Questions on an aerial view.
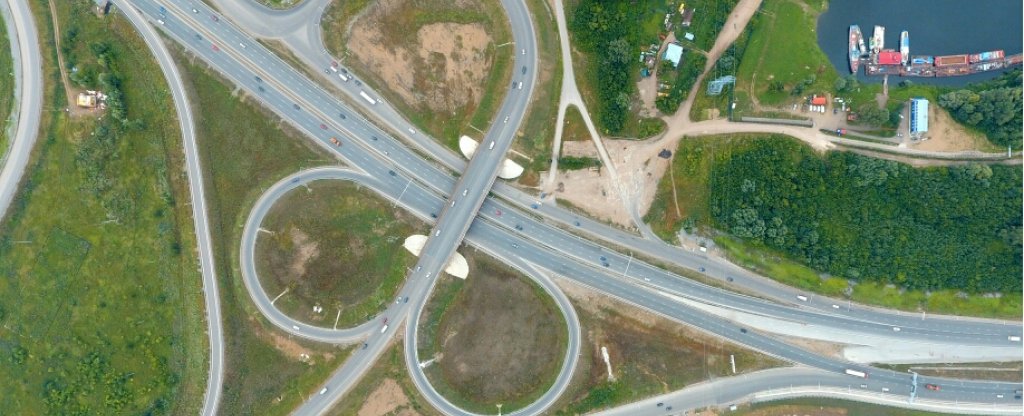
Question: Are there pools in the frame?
No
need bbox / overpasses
[404,135,523,280]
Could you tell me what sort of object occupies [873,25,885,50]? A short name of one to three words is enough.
boat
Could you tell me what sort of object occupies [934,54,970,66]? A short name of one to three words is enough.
ship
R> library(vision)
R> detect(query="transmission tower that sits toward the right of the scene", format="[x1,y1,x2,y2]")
[707,76,738,95]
